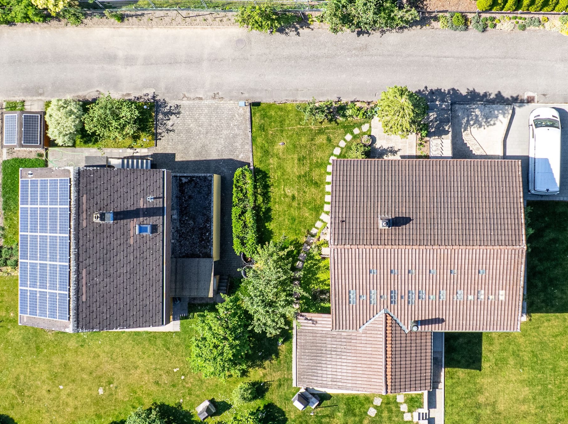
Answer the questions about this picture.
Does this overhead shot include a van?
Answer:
Yes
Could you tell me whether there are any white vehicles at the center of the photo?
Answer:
No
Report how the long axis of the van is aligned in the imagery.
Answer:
vertically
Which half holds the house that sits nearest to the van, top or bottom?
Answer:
bottom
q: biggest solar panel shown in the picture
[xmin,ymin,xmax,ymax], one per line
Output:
[24,114,41,143]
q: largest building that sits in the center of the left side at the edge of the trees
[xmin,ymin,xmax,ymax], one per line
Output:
[18,155,232,333]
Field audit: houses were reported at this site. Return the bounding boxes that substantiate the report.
[18,155,232,333]
[292,158,527,396]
